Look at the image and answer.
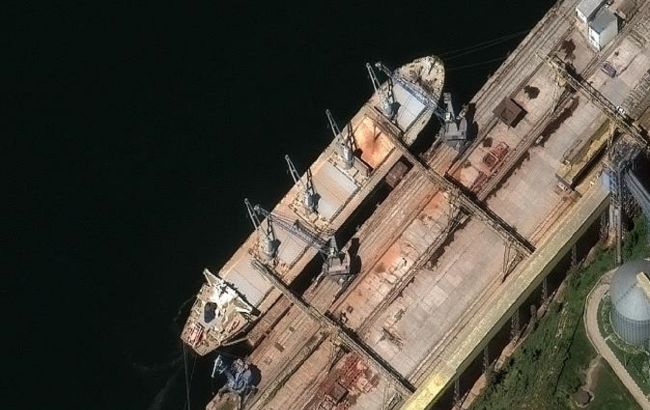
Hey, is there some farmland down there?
No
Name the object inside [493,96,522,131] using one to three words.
shed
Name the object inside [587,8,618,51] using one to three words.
building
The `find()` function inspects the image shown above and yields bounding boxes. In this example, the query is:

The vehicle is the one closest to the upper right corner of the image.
[600,60,618,76]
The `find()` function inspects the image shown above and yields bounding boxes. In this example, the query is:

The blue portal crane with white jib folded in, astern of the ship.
[209,354,256,410]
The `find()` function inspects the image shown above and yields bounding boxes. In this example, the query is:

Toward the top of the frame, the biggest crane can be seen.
[377,62,472,167]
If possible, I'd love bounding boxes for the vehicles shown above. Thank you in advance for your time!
[555,180,569,192]
[536,136,547,147]
[600,60,618,76]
